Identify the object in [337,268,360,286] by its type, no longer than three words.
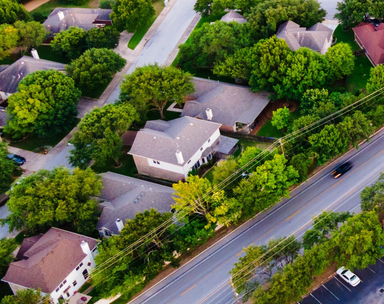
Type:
car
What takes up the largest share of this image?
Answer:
trees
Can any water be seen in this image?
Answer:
No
